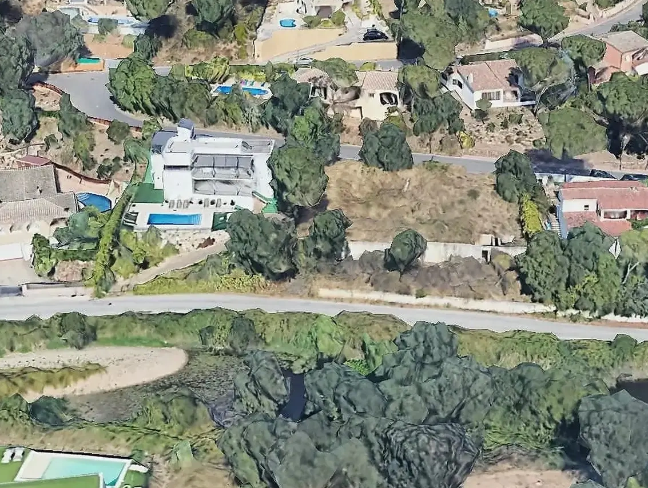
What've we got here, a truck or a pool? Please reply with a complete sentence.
There is a pool in the scene.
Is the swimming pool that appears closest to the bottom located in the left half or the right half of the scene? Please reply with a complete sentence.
You can find the swimming pool that appears closest to the bottom on the left side of the picture.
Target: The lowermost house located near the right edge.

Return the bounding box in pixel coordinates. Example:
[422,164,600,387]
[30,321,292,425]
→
[543,176,648,240]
